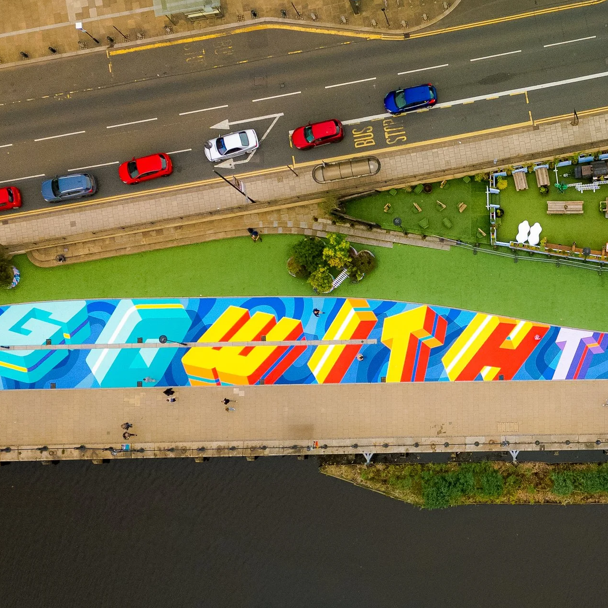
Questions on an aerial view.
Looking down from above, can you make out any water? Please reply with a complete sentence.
Yes, there is water in the image.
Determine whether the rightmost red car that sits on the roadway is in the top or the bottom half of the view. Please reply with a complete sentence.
You can find the rightmost red car that sits on the roadway in the top half.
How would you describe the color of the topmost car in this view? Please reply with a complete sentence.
In this view, the topmost car is blue.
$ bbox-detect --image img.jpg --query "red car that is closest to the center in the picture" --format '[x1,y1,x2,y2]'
[293,120,345,151]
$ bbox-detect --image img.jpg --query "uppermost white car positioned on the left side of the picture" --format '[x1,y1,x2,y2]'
[207,130,260,160]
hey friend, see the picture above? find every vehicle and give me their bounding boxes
[207,130,260,160]
[120,154,174,184]
[385,84,436,116]
[0,187,26,211]
[293,120,345,151]
[43,173,99,204]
